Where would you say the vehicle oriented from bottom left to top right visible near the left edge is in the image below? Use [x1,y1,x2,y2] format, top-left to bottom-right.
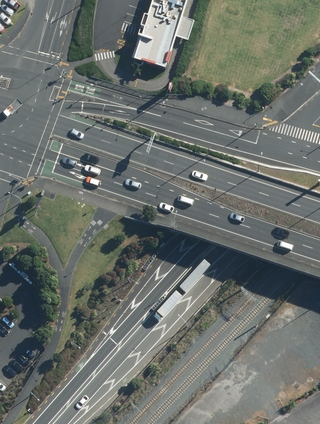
[2,98,21,117]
